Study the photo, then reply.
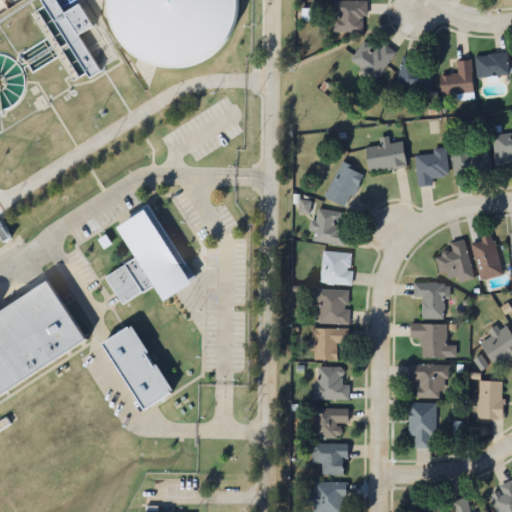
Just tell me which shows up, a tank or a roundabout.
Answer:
tank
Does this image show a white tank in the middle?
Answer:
No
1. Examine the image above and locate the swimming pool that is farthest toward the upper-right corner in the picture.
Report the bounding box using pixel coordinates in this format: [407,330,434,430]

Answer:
[482,84,508,97]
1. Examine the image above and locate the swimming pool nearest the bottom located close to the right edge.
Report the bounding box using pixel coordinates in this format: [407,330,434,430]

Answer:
[488,276,510,289]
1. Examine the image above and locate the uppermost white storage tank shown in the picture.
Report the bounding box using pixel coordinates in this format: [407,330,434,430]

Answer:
[106,0,239,68]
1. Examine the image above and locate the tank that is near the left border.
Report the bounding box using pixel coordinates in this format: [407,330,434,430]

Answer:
[0,54,30,110]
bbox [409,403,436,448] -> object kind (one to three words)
house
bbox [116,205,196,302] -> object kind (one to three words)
building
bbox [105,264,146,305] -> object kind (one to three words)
building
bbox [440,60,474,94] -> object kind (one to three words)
house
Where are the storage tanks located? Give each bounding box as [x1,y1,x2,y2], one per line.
[106,0,239,68]
[0,54,30,110]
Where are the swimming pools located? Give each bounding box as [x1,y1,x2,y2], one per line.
[488,276,510,289]
[482,84,508,97]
